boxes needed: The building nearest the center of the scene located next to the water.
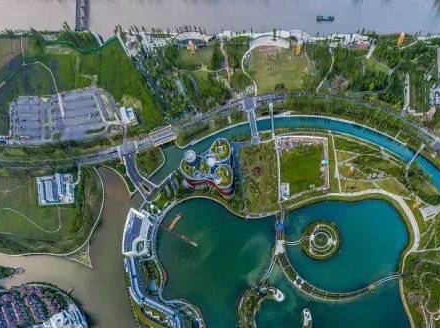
[181,138,236,193]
